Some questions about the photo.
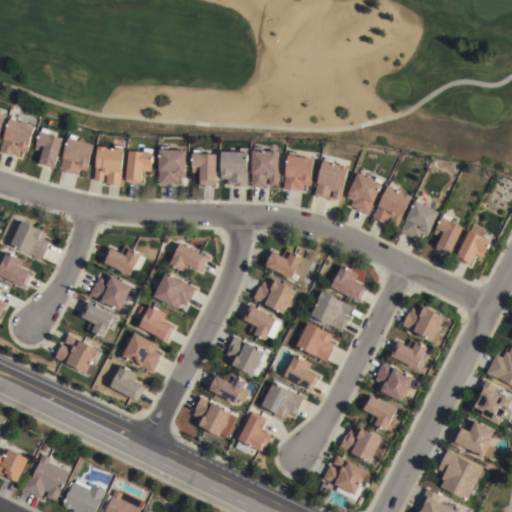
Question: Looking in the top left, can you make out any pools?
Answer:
No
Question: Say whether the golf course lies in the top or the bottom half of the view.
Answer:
top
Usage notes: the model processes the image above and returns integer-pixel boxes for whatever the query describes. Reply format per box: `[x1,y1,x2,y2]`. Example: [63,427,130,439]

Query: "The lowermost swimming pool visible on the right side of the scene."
[331,492,348,508]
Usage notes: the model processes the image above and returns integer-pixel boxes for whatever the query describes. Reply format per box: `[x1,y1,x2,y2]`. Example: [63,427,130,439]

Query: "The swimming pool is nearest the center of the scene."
[276,349,292,374]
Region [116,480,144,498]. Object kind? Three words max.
swimming pool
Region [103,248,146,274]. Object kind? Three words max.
house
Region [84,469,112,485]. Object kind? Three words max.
swimming pool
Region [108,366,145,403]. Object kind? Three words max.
house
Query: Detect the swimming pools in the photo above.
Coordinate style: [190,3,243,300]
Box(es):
[116,480,144,498]
[84,469,112,485]
[496,438,510,455]
[331,492,348,508]
[276,349,292,374]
